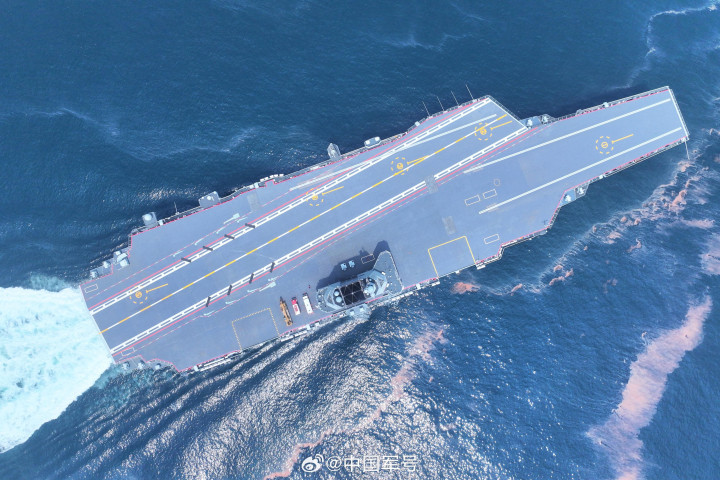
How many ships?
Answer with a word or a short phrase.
one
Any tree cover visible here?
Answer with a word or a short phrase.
No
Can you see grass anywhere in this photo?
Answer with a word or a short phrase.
No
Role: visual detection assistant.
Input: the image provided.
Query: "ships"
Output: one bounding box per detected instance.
[80,86,689,375]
